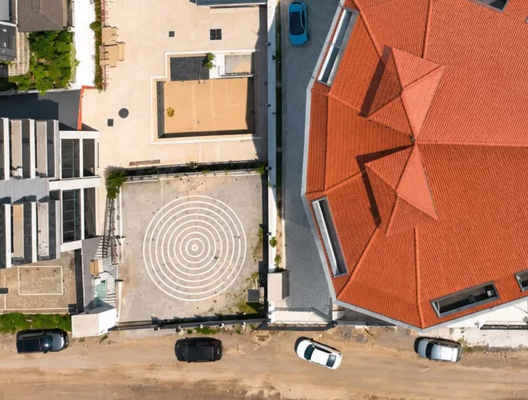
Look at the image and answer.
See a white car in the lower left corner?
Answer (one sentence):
No, there's no white car to be seen in the lower left corner.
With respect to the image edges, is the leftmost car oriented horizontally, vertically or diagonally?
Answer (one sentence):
The leftmost car has been laid out horizontally relative to the frame.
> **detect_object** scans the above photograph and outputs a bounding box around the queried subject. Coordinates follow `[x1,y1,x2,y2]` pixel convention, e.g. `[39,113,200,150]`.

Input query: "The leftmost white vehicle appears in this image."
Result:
[293,335,345,369]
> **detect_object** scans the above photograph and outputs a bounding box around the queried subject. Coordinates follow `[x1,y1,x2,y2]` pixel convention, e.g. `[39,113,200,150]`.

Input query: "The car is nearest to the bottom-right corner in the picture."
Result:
[414,335,462,364]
